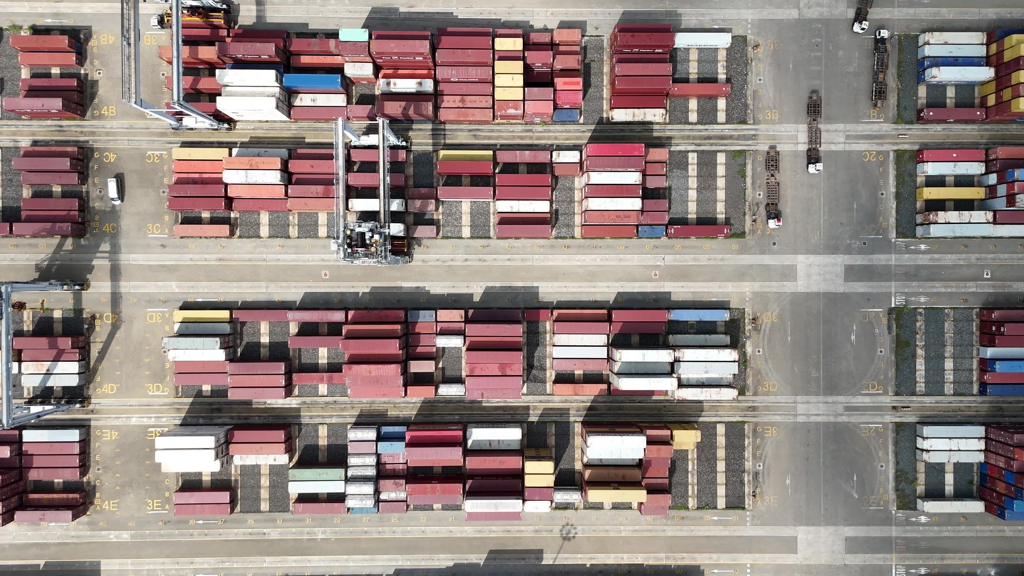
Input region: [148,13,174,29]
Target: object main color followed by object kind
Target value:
white vehicle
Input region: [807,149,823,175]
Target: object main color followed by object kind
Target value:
white vehicle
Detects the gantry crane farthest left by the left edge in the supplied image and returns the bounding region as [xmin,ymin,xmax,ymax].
[0,282,91,427]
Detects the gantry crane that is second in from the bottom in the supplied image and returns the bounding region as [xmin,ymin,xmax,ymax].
[326,118,419,264]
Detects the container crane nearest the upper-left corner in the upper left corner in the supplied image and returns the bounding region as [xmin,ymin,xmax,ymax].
[118,0,239,131]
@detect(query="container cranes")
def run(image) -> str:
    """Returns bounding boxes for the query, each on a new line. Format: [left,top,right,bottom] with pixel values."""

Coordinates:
[326,118,419,264]
[0,282,91,427]
[118,0,239,131]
